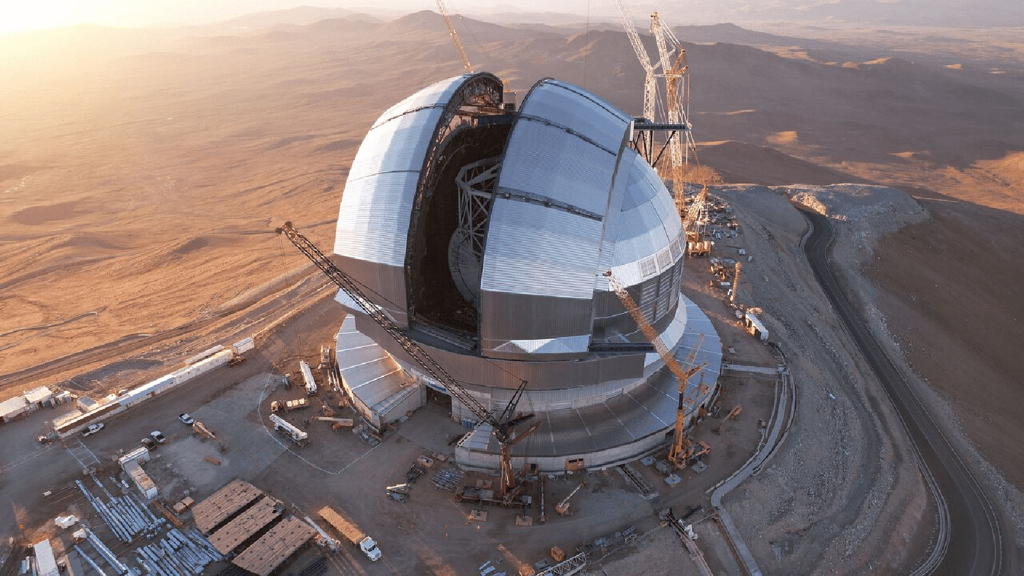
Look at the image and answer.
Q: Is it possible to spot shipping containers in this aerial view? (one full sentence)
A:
Yes, looking at the shot, I can spot a shipping container.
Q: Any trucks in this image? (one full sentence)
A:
Yes, a truck can be made out from above.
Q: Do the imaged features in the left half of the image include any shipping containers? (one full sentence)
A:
Yes, there is a shipping container in the left half of the image.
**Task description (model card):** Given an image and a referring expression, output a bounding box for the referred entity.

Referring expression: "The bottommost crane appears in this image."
[287,494,339,552]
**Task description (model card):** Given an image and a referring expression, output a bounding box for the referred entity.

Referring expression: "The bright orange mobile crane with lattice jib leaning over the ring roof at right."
[598,268,716,479]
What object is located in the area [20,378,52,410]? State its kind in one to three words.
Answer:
shed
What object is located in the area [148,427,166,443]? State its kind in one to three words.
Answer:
vehicle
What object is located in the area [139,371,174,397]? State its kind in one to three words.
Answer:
building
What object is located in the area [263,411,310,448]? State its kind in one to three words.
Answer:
crane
